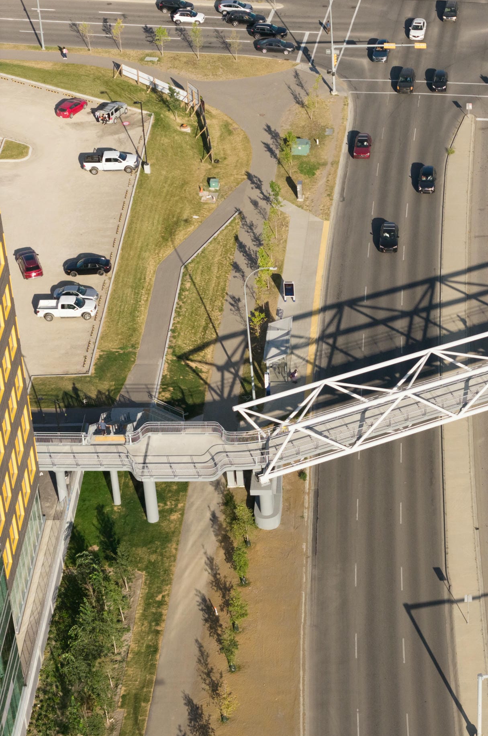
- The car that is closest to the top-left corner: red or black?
red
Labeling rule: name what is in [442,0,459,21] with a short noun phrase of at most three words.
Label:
car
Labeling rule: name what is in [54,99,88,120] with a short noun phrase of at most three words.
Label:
car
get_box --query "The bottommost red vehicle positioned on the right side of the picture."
[353,134,372,158]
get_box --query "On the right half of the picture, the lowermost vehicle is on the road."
[378,222,399,251]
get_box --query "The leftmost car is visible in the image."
[17,250,42,278]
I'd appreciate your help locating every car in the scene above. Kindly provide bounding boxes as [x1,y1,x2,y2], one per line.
[217,0,254,15]
[250,21,288,40]
[93,99,130,123]
[227,10,266,26]
[51,283,101,299]
[64,257,111,277]
[256,39,295,55]
[431,70,448,92]
[17,250,42,278]
[371,39,389,62]
[353,134,372,158]
[417,166,436,193]
[378,222,399,251]
[409,20,426,40]
[156,0,193,13]
[442,0,459,21]
[170,7,208,24]
[54,99,88,120]
[396,64,416,93]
